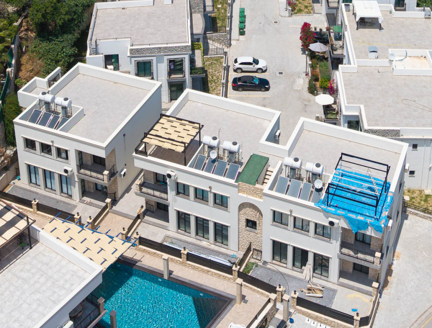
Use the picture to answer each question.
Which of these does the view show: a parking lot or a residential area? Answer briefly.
residential area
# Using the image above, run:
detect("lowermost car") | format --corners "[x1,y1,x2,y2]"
[233,75,270,92]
